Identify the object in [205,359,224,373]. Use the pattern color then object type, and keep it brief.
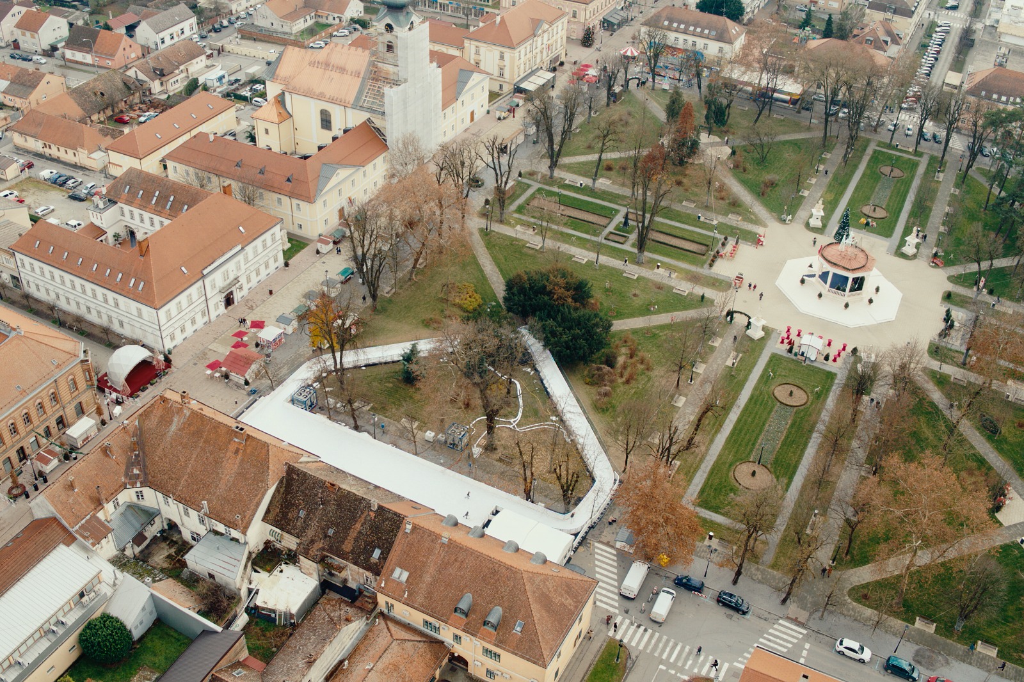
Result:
red umbrella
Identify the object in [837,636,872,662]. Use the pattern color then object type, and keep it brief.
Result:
white car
